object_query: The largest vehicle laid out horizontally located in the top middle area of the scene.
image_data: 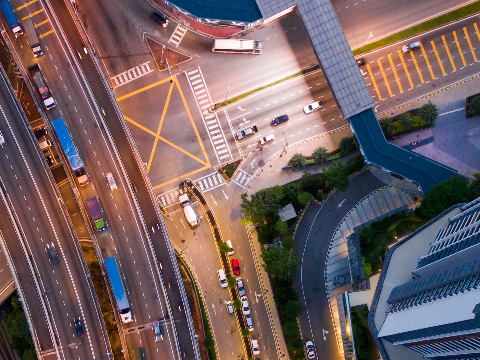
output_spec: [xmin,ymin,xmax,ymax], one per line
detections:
[212,39,262,56]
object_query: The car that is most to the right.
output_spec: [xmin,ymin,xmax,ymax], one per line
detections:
[402,39,423,53]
